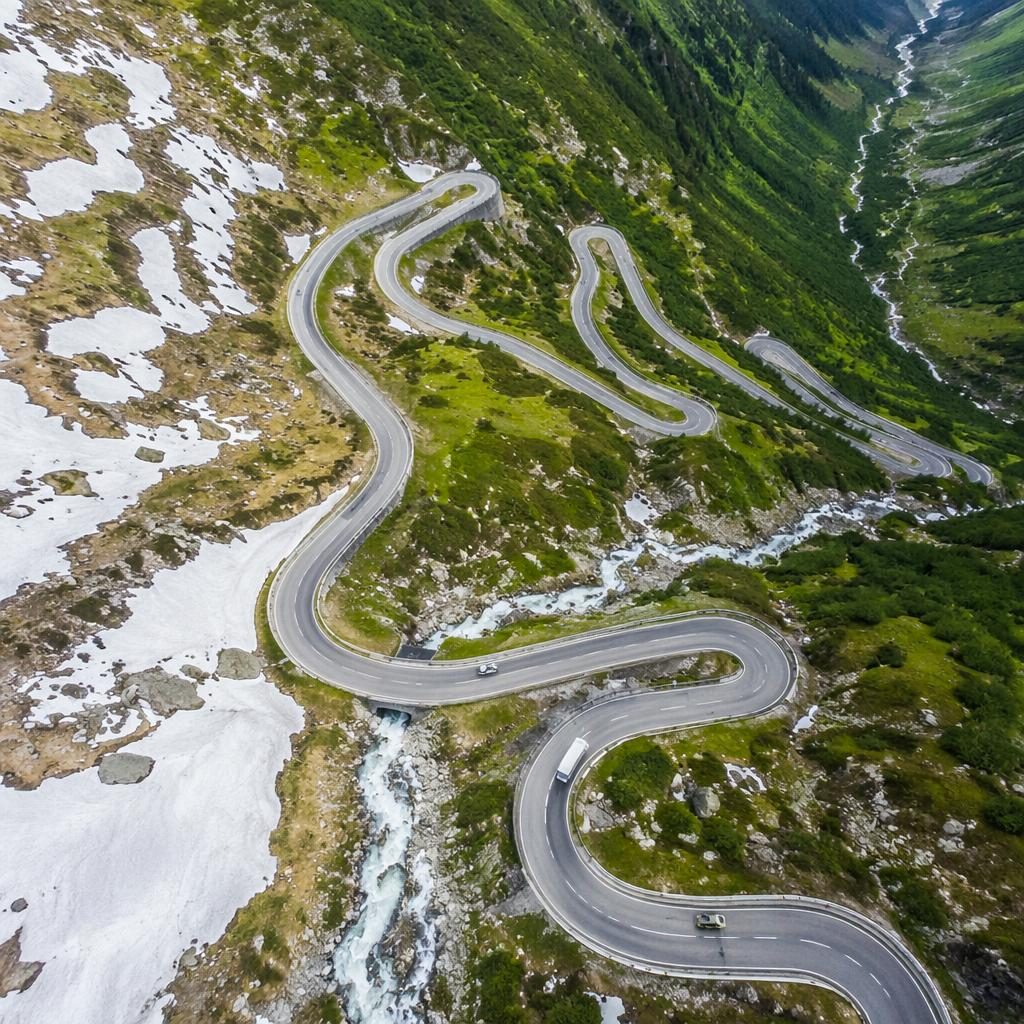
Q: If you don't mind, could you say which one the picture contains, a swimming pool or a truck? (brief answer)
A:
truck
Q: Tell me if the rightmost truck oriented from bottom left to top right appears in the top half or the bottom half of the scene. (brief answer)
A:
bottom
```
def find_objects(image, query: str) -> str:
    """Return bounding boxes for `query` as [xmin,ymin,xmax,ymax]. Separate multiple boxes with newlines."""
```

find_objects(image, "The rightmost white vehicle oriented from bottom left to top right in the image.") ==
[554,732,597,781]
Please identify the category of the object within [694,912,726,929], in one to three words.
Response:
car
